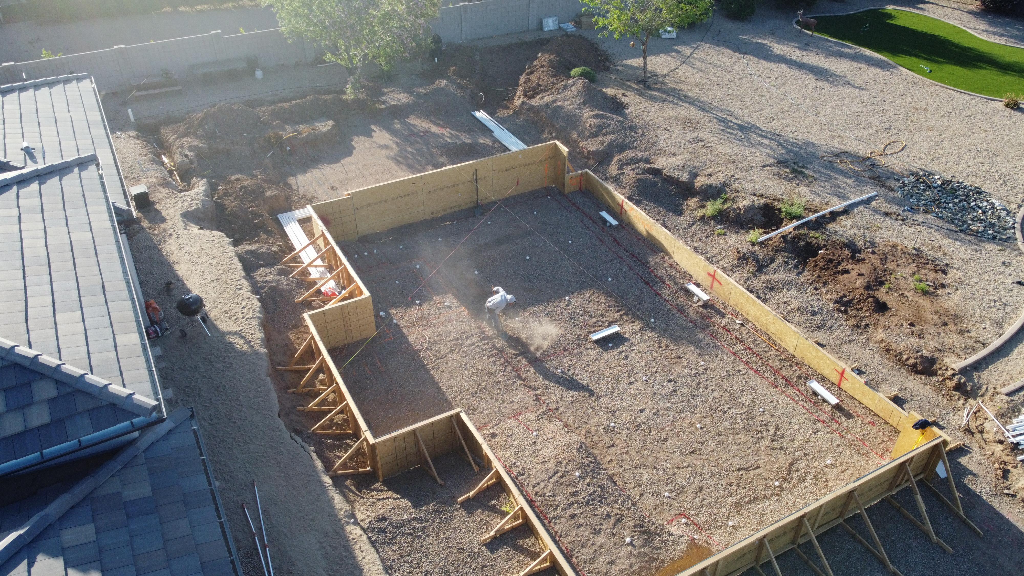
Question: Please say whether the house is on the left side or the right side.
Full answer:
You can find the house on the left side of the picture.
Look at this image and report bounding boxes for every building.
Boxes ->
[0,70,250,576]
